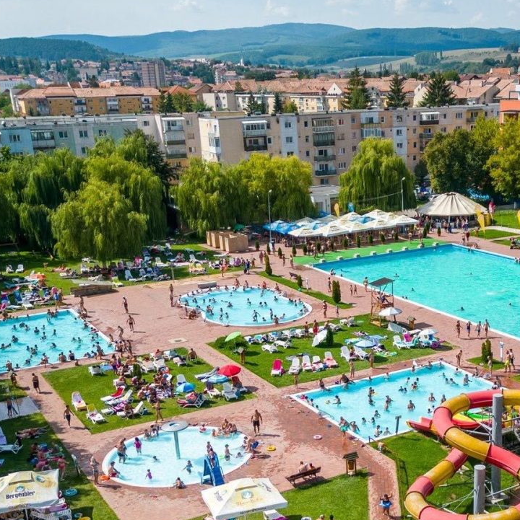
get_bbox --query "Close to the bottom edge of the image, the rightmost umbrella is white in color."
[200,478,289,520]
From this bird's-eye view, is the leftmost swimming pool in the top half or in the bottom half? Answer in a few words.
bottom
